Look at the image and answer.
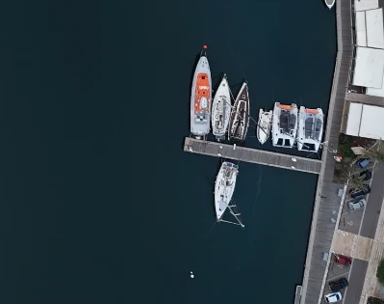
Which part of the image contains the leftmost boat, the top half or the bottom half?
top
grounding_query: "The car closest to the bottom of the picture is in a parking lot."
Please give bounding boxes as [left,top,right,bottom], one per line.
[324,292,343,304]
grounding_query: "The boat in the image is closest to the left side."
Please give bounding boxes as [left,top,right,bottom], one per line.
[190,51,214,139]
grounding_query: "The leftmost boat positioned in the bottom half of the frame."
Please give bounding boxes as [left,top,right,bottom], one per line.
[214,160,249,224]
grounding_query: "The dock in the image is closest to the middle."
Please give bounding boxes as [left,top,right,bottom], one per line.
[183,137,322,173]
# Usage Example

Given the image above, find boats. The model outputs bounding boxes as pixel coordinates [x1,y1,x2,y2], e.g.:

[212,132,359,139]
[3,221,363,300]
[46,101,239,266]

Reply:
[297,106,336,154]
[323,0,335,15]
[230,82,265,141]
[255,108,272,144]
[190,51,214,139]
[272,102,308,147]
[211,75,248,140]
[214,160,249,224]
